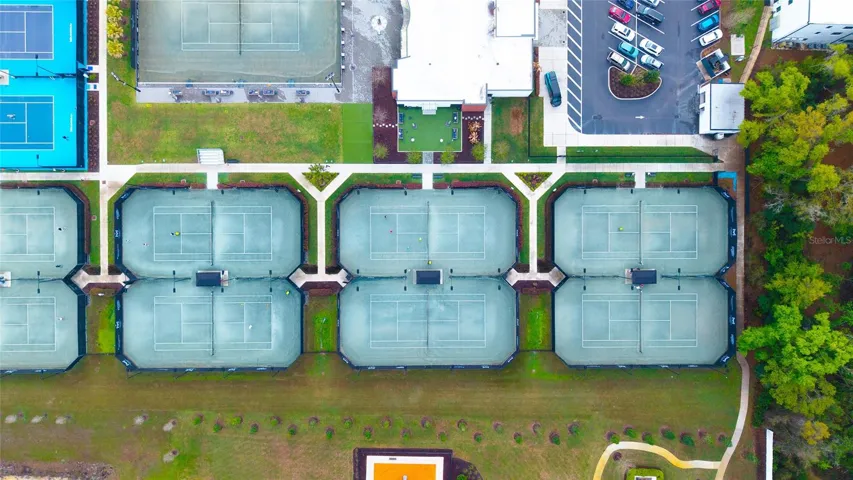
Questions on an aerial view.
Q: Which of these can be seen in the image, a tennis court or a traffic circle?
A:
tennis court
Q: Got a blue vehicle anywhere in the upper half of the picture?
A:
Yes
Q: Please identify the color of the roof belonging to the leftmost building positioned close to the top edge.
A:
white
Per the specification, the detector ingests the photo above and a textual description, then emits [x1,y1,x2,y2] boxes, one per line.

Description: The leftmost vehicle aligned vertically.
[546,71,562,106]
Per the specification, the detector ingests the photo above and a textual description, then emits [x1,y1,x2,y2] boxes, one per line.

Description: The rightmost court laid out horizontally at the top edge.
[138,0,341,82]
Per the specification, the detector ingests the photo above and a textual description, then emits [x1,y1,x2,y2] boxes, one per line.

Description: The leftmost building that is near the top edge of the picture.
[393,0,539,118]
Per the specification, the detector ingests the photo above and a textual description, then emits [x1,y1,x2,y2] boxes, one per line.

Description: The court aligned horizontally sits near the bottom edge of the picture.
[367,456,444,480]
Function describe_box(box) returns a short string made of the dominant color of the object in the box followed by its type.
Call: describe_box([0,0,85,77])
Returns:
blue tennis court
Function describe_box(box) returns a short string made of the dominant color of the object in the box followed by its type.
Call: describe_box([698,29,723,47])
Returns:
white car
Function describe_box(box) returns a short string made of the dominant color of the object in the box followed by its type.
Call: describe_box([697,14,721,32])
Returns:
blue car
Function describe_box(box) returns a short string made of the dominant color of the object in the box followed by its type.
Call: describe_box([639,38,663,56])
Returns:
white car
